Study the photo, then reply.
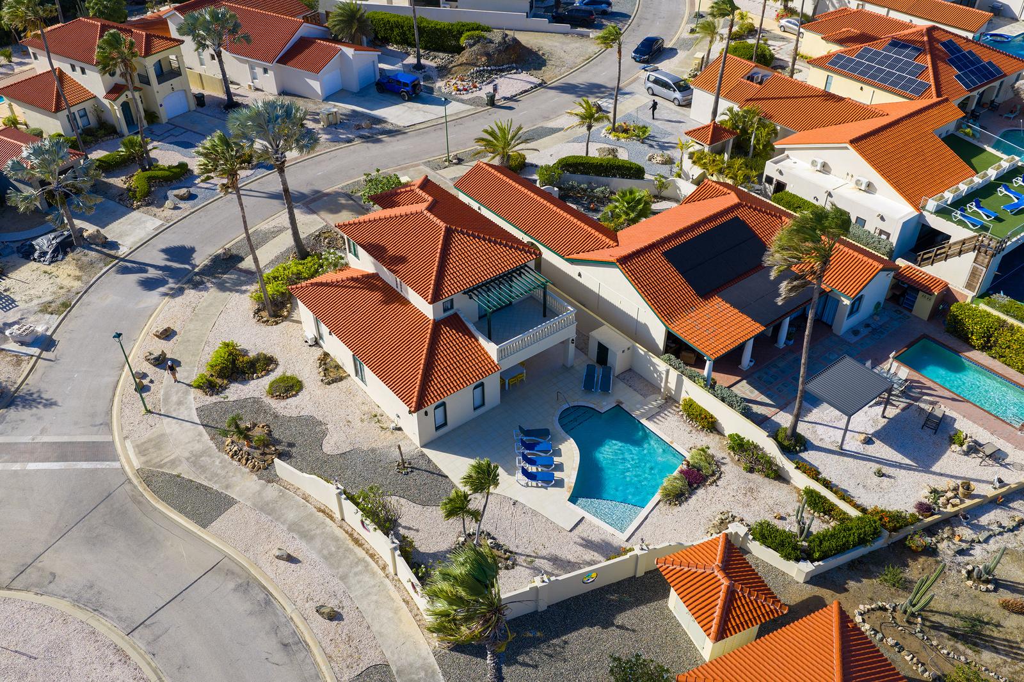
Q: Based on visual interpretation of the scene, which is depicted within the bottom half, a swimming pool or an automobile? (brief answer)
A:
swimming pool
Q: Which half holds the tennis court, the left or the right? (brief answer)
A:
right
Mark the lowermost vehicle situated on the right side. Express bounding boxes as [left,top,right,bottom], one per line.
[640,64,695,106]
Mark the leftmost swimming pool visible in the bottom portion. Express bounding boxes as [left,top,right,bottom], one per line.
[552,391,693,541]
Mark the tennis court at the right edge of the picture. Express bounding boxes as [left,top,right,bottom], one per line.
[974,255,1024,305]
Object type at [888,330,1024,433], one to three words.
swimming pool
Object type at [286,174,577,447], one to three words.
house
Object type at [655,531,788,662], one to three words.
shed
